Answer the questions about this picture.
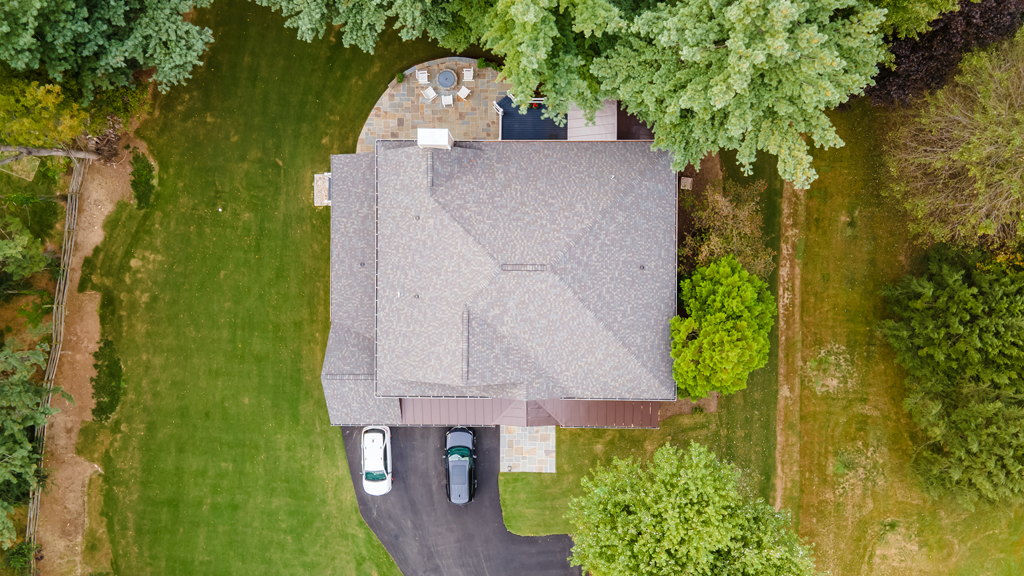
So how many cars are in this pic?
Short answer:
2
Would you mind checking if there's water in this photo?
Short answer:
No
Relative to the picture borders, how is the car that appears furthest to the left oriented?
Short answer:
up and down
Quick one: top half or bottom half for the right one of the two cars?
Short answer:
bottom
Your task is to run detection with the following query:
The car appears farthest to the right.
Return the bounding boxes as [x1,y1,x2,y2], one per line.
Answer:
[443,429,478,505]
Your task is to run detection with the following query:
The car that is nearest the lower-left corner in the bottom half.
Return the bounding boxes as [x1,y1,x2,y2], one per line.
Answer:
[359,428,394,495]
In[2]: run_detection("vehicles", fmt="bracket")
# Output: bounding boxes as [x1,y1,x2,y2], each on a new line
[359,428,394,495]
[443,429,478,505]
